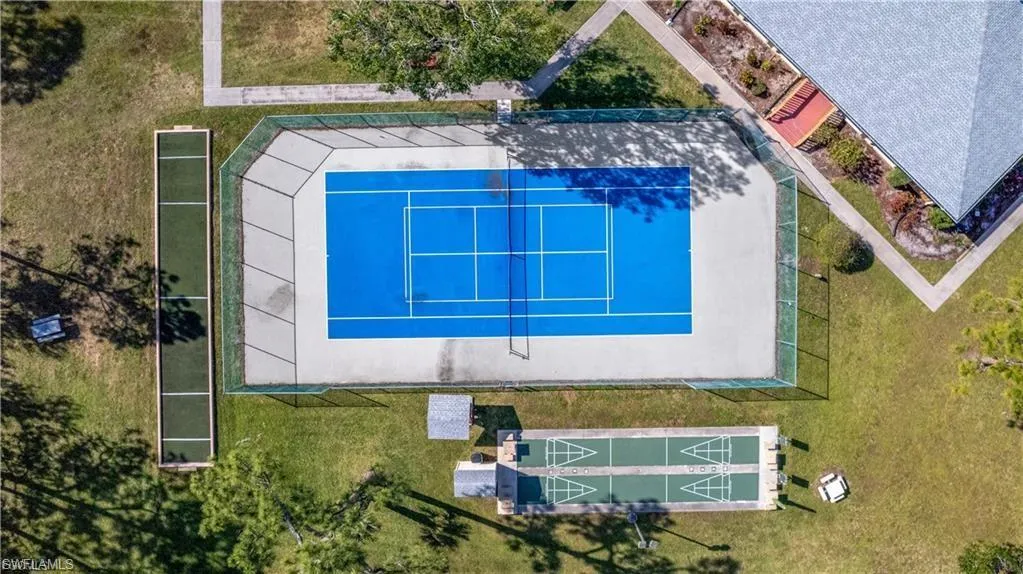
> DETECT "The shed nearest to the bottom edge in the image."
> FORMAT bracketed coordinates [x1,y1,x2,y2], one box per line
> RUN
[453,460,498,497]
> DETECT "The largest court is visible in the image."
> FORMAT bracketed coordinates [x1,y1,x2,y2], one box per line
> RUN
[245,124,775,383]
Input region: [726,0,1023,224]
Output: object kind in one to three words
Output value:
building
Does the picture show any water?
No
